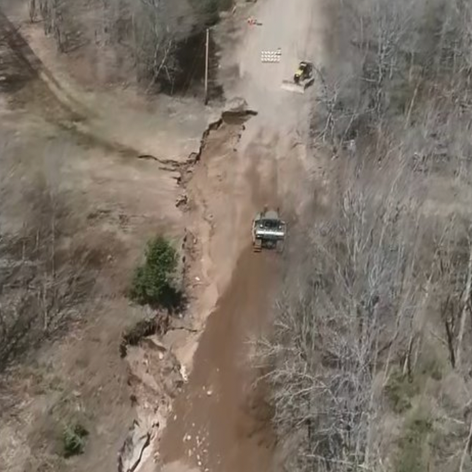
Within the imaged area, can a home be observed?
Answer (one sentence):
No, I find no home anywhere in the image.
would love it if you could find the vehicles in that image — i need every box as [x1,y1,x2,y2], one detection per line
[286,59,319,93]
[252,205,285,250]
